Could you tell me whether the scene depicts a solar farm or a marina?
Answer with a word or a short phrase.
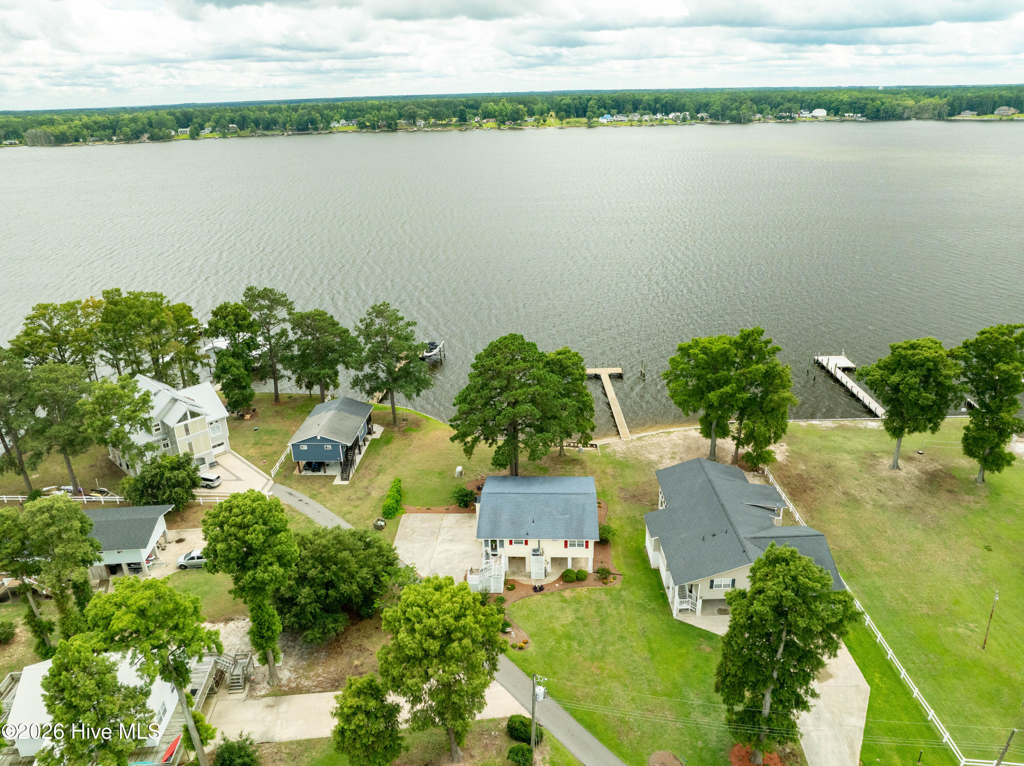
marina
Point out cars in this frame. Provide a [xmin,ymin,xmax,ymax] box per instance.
[174,548,219,569]
[194,472,220,489]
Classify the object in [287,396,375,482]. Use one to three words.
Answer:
house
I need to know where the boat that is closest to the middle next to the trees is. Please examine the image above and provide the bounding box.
[420,340,442,356]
